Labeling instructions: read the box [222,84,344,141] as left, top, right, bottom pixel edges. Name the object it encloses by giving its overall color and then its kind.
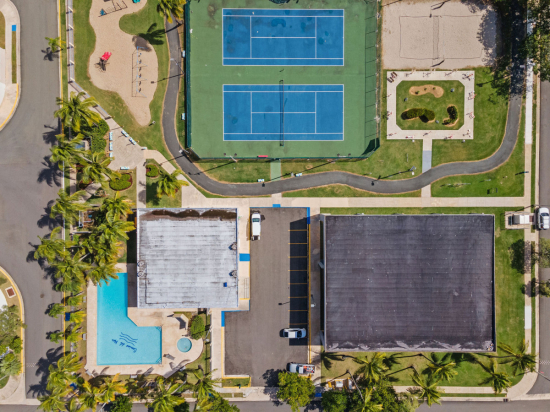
blue tennis court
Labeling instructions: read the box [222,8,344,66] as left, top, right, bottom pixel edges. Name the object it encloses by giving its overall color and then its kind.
blue tennis court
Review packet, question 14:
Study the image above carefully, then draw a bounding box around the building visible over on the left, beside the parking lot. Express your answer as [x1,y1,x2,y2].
[136,208,238,308]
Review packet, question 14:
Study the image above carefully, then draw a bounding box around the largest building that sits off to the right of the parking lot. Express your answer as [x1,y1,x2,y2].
[316,209,495,351]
